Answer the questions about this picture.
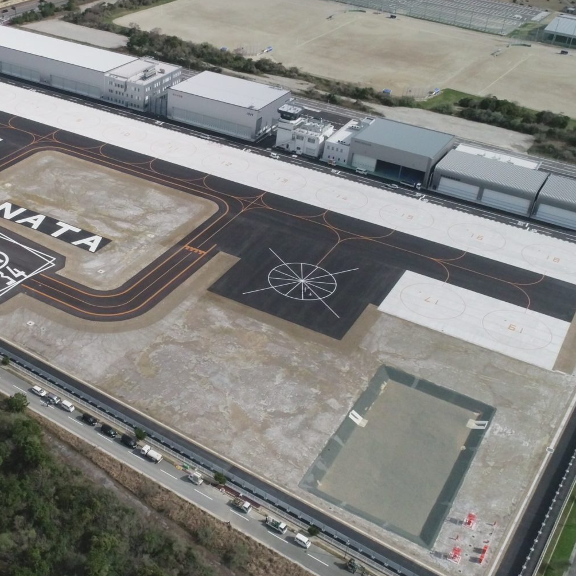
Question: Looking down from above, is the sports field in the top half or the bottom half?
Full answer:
The top half of the photo is where the sports field is.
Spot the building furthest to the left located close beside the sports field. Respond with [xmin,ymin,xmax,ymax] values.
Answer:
[0,25,141,100]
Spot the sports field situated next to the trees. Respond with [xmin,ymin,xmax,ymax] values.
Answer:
[117,0,576,122]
